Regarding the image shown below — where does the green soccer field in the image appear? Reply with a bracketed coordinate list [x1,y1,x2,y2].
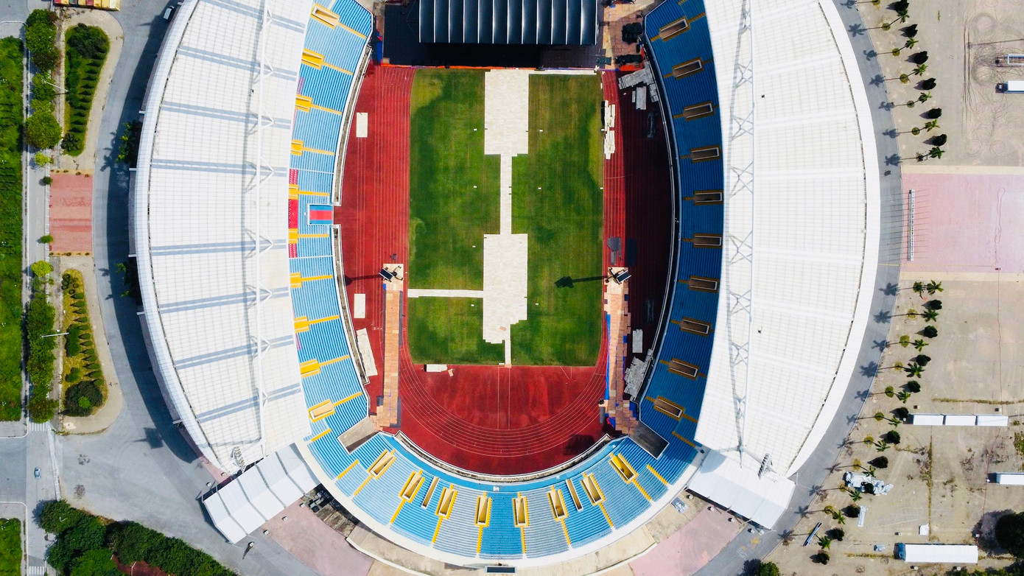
[409,67,604,367]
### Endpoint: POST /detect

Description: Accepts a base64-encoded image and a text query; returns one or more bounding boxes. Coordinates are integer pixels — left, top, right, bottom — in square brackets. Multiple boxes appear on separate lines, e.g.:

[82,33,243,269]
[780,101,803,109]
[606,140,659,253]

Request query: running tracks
[333,17,672,470]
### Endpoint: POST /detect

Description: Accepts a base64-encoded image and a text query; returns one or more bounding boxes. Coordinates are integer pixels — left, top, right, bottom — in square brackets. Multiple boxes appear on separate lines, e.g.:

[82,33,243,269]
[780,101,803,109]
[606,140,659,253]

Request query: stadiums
[128,0,877,576]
